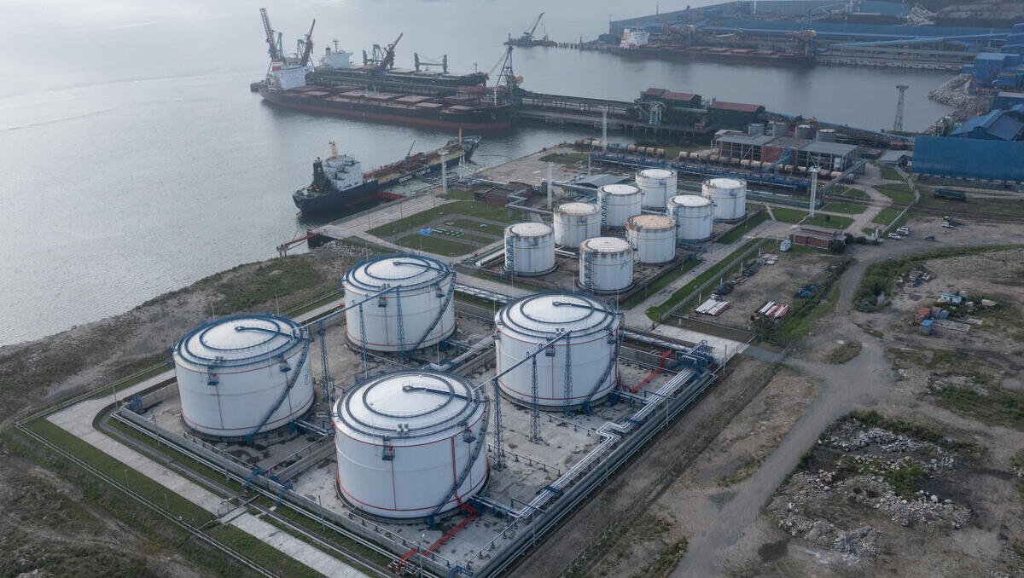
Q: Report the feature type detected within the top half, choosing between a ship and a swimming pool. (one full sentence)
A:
You can see a ship within the top half.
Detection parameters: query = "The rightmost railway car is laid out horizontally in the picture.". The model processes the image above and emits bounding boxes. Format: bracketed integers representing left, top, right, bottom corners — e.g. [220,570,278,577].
[934,187,966,202]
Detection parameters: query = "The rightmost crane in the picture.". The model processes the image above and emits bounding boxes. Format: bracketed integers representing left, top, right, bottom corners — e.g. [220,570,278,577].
[502,8,557,47]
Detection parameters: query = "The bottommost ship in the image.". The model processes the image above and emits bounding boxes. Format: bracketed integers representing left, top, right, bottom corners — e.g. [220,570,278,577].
[285,118,474,209]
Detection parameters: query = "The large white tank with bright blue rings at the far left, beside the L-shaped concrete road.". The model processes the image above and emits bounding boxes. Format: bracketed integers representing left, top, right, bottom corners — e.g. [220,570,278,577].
[166,289,320,442]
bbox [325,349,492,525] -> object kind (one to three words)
storage tank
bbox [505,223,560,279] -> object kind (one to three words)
storage tank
